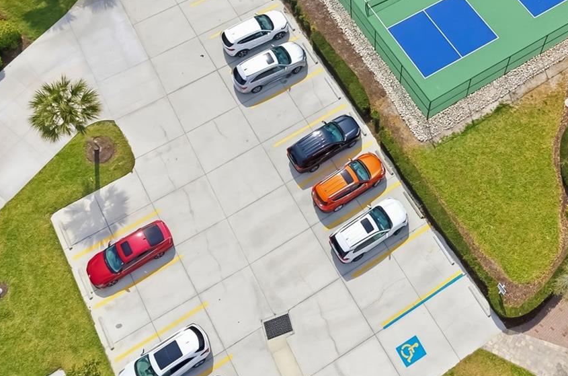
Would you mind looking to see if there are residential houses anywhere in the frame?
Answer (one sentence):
No, I can see no residential house in this picture.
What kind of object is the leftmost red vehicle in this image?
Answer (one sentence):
I'd identify the leftmost red vehicle as a car.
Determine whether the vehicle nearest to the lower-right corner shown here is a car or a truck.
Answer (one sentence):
The vehicle nearest to the lower-right corner in the image is a car.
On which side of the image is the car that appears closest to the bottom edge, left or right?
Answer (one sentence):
The car that appears closest to the bottom edge is on the left side of the image.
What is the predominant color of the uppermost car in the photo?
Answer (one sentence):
In this view, the uppermost car is white.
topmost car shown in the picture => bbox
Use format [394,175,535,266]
[222,13,290,59]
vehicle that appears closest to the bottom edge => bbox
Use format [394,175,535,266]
[122,328,211,376]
